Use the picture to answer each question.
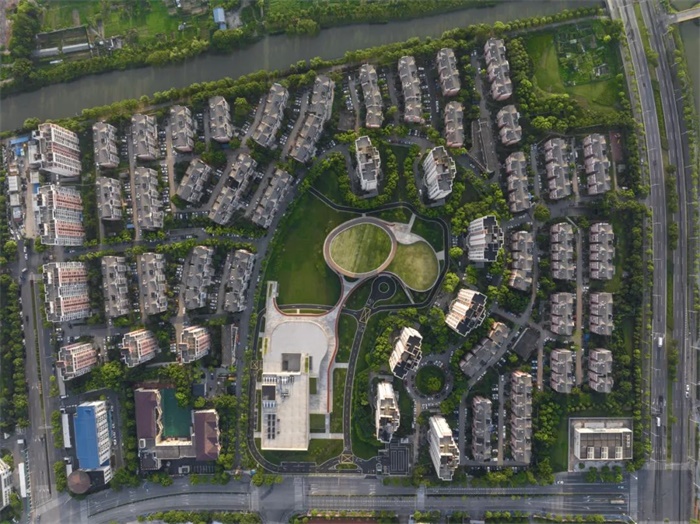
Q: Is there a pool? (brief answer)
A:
No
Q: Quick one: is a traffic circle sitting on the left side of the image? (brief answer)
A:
No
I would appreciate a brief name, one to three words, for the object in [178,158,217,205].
building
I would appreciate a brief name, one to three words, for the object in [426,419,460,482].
building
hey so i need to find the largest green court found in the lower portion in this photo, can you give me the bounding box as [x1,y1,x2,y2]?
[162,386,193,437]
